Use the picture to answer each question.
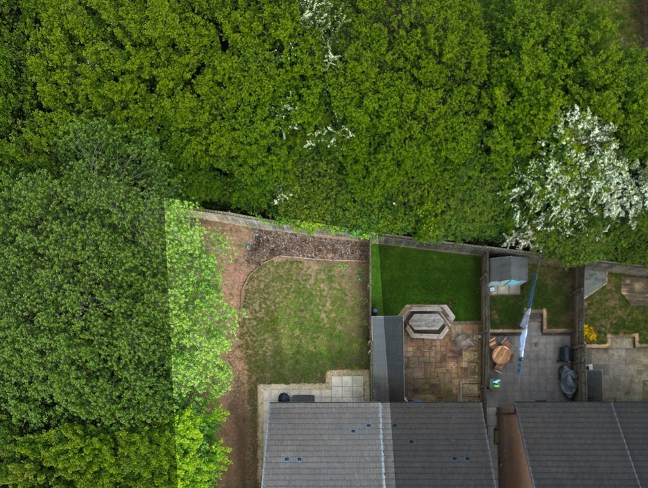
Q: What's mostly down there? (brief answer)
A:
trees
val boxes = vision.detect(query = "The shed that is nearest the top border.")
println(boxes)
[488,256,528,286]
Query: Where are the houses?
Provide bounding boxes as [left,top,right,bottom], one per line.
[497,398,648,488]
[262,399,497,488]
